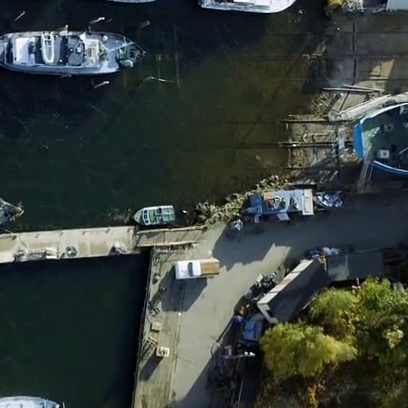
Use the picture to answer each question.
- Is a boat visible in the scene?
Yes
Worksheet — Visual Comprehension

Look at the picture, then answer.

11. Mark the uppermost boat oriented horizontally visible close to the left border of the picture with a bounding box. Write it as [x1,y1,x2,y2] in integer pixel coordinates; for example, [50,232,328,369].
[0,30,145,76]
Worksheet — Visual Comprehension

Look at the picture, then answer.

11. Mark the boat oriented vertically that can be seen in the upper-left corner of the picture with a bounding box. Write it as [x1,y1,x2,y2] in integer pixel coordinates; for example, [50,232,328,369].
[42,31,55,64]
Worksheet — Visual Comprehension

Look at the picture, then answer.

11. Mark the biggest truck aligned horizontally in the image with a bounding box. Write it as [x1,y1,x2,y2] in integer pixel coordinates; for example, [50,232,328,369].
[173,259,220,281]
